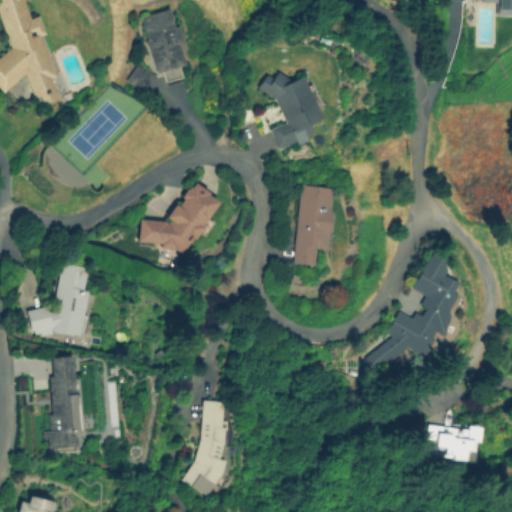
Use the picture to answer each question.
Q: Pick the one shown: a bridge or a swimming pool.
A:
swimming pool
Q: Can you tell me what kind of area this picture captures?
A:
residential area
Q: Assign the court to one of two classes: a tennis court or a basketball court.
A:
tennis court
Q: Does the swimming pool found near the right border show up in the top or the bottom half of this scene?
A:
top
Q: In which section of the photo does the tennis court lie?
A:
top left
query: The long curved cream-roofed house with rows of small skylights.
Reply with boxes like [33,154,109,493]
[183,401,228,496]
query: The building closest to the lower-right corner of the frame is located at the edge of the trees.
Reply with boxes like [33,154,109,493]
[428,425,486,462]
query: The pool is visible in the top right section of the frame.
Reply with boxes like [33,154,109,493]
[466,0,496,48]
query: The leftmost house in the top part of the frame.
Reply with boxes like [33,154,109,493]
[0,0,62,105]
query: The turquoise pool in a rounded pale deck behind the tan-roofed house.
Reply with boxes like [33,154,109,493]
[54,44,90,92]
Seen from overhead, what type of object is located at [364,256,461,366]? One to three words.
house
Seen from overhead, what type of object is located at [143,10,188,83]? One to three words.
house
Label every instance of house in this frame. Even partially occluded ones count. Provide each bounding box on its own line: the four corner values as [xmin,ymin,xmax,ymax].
[364,256,461,366]
[143,10,188,83]
[428,425,486,462]
[140,184,222,252]
[19,496,57,512]
[258,70,325,149]
[296,185,333,266]
[0,0,62,105]
[183,401,228,496]
[498,0,512,16]
[28,266,89,337]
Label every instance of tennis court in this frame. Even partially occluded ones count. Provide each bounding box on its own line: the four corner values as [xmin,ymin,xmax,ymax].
[52,86,146,186]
